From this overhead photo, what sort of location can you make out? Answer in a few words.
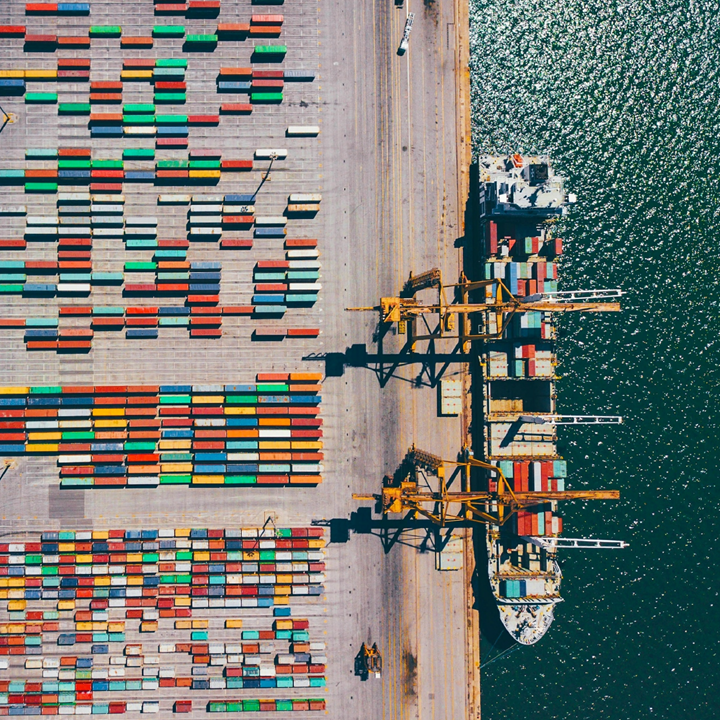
port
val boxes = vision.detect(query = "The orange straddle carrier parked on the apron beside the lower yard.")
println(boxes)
[360,641,381,679]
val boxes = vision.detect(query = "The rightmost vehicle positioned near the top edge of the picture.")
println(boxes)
[397,13,415,57]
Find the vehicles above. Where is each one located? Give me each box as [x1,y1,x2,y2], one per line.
[360,641,381,679]
[397,13,415,57]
